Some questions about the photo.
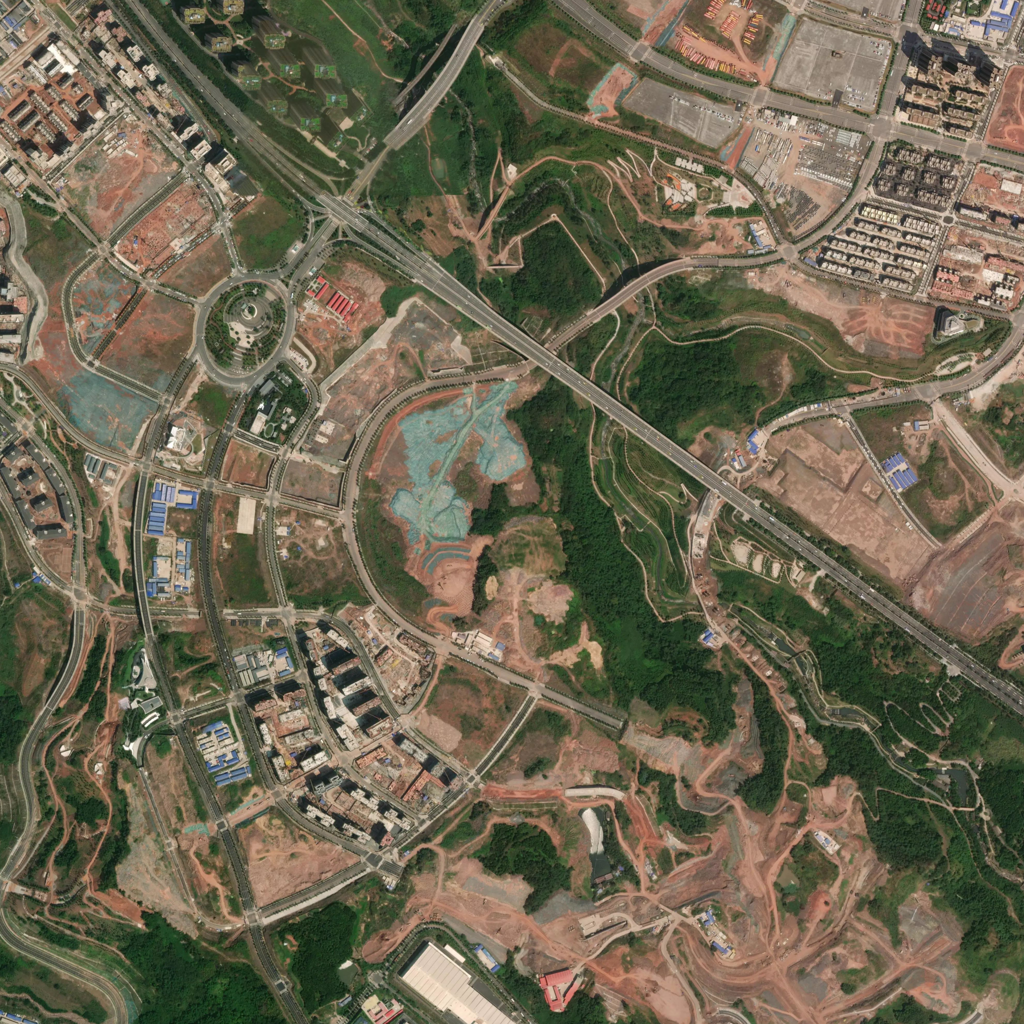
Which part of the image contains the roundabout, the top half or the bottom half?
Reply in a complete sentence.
You can find the roundabout in the top half.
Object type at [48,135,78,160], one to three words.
building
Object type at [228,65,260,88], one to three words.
building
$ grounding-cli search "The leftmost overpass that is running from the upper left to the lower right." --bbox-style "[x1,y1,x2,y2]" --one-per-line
[314,186,370,236]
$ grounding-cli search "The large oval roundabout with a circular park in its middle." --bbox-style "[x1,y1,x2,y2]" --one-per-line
[195,271,296,385]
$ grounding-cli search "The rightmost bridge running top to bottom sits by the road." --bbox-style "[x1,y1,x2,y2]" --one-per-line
[132,465,154,633]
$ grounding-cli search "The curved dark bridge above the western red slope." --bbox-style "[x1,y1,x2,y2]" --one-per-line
[40,593,86,721]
